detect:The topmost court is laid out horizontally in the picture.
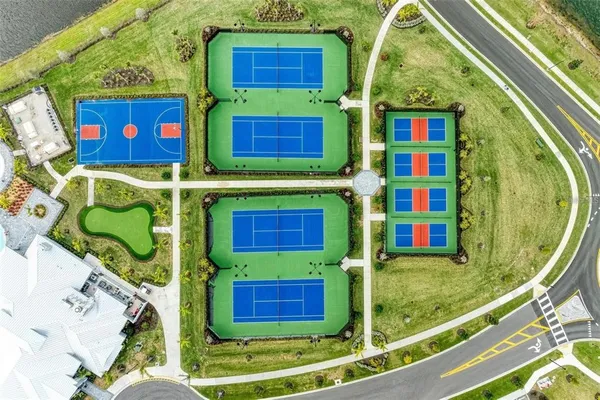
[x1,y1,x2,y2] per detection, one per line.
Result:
[209,33,347,102]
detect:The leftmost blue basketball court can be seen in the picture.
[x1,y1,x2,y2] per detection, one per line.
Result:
[76,98,185,165]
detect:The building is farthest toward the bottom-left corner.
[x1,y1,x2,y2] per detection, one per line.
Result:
[0,234,129,400]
